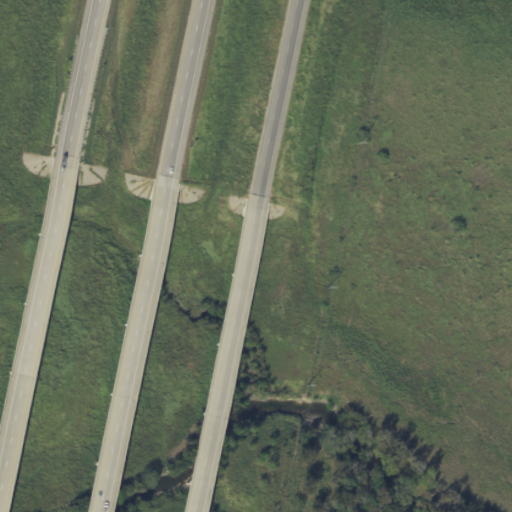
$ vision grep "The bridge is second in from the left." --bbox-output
[90,174,181,512]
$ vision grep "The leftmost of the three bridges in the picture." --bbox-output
[0,154,80,512]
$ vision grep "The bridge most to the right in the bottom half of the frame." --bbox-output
[185,193,273,512]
